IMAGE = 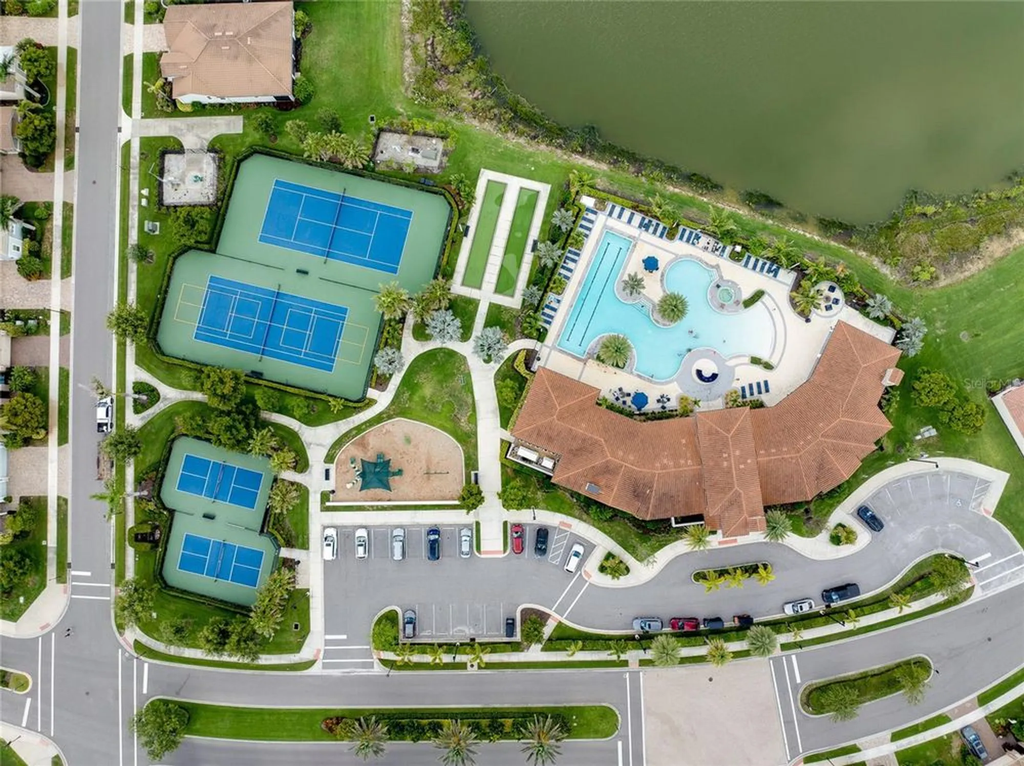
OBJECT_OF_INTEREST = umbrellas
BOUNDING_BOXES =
[642,256,658,272]
[631,393,647,409]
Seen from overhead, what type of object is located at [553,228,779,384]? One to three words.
swimming pool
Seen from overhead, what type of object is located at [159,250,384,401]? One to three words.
tennis court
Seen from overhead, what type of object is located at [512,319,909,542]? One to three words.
building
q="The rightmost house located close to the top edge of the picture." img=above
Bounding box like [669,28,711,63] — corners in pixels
[160,0,297,104]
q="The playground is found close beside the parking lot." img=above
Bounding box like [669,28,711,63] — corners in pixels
[328,417,466,504]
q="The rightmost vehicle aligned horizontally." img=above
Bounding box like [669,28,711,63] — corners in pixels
[821,584,860,603]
